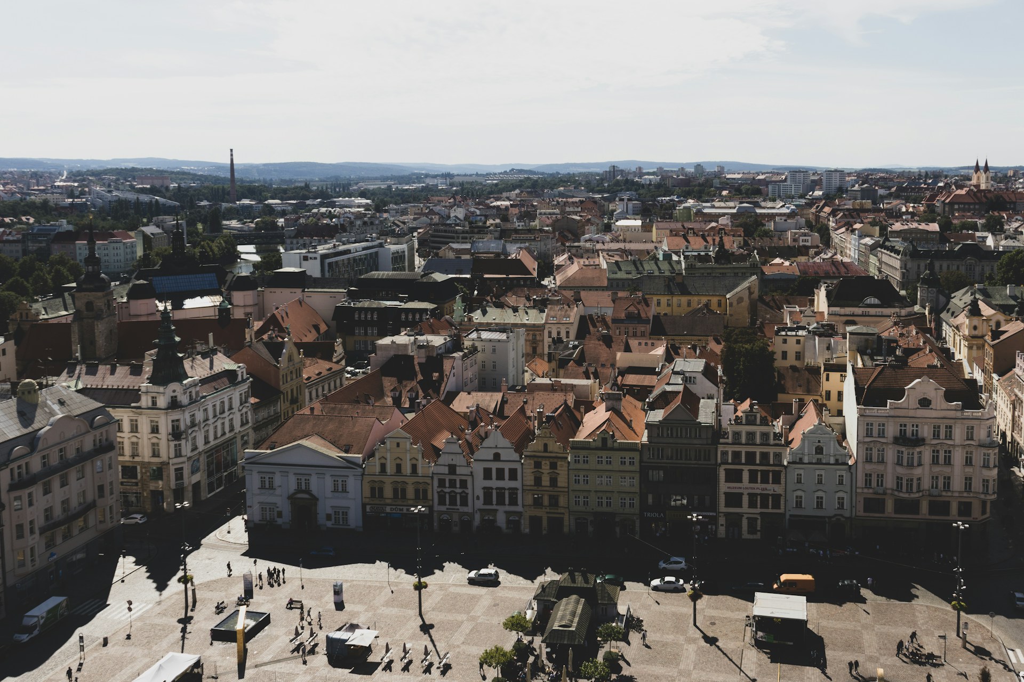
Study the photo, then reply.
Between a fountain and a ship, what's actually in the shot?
fountain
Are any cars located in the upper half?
No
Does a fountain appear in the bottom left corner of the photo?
Yes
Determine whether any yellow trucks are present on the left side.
No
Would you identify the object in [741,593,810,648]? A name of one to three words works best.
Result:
tent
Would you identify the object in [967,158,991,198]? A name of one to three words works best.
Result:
building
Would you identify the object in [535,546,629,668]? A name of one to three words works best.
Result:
building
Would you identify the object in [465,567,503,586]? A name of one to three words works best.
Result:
car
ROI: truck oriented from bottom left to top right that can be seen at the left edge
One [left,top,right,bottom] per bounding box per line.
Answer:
[16,589,77,640]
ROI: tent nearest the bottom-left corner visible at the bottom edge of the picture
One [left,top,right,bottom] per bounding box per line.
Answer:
[129,649,202,682]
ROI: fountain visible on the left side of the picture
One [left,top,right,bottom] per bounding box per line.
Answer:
[211,608,275,665]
